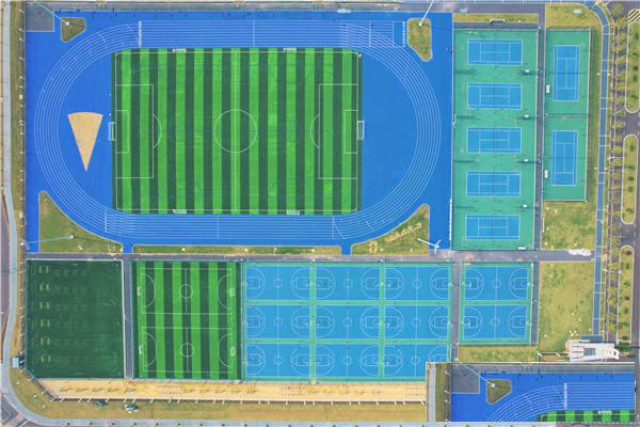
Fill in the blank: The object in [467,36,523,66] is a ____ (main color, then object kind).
blue tennis court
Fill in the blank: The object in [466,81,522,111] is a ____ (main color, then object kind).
blue tennis court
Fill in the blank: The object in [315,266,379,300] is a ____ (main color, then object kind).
blue basketball court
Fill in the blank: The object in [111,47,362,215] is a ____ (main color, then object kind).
green sports field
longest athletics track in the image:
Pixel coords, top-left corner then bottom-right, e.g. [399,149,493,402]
[32,18,443,239]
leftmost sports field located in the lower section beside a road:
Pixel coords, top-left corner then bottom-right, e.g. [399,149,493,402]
[27,260,122,379]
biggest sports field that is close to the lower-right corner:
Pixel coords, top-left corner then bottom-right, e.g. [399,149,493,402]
[451,372,636,422]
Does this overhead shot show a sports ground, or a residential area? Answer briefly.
sports ground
